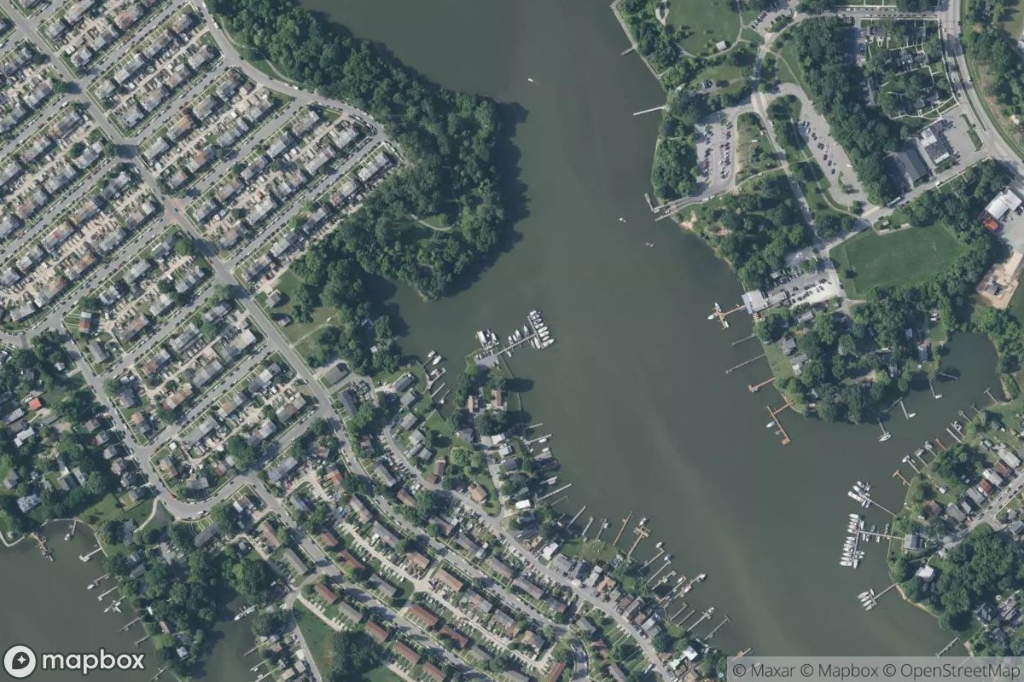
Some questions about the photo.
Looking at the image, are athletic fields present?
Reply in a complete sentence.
Yes, I can see an athletic field in this picture.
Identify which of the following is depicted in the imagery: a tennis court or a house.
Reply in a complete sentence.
There is a house in the scene.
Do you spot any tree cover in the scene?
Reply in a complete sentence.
Yes, some tree cover is visible.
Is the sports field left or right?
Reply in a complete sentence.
The sports field is on the right side of the image.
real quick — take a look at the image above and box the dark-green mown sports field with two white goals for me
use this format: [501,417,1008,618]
[832,222,969,299]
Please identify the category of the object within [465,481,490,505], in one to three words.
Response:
house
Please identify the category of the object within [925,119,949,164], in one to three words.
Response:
building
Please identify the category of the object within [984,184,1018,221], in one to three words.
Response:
building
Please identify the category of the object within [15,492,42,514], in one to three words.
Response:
house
